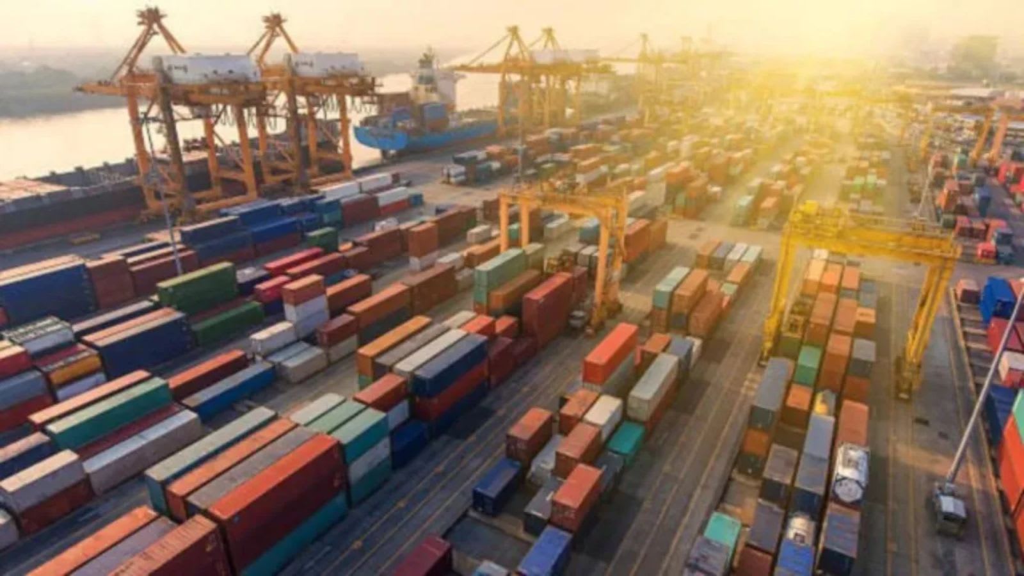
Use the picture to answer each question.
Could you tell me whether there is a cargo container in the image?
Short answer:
Yes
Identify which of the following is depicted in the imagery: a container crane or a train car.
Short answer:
container crane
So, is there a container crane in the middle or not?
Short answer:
Yes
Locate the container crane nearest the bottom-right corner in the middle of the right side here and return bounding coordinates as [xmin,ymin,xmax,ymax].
[761,202,949,396]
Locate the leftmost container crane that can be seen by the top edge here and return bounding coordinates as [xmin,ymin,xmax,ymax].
[58,0,283,224]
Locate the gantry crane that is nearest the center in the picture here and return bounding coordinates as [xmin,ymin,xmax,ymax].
[498,180,630,332]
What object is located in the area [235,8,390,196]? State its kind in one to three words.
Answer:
container crane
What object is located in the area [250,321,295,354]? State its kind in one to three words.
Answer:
shipping container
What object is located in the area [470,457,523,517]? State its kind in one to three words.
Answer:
shipping container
